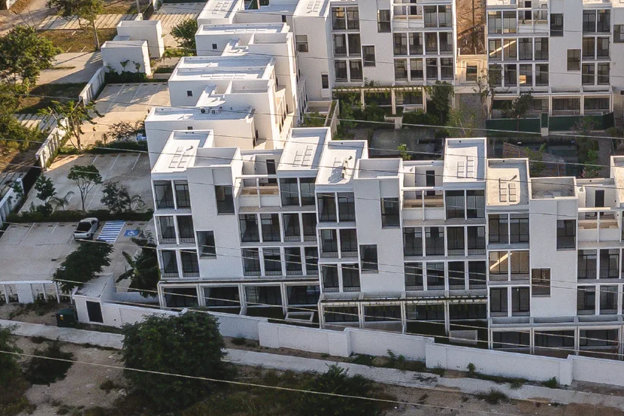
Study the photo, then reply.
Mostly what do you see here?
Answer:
buildings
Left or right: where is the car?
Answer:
left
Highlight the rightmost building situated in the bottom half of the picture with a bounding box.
[485,156,624,365]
